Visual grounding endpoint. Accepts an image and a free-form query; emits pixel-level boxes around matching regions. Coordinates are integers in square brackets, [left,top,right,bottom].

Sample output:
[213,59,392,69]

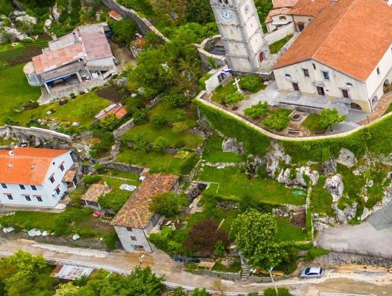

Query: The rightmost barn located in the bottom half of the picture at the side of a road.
[110,165,186,262]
